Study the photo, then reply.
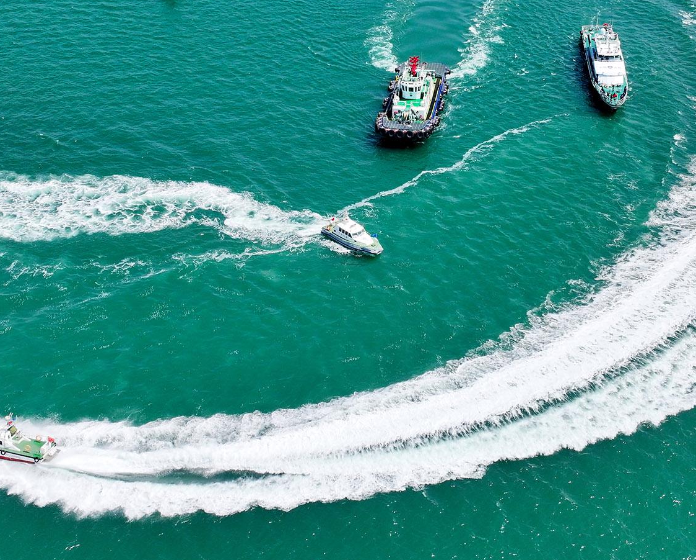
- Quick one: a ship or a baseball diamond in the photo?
ship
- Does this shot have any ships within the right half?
Yes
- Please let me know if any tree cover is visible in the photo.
No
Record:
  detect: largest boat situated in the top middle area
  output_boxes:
[375,56,451,145]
